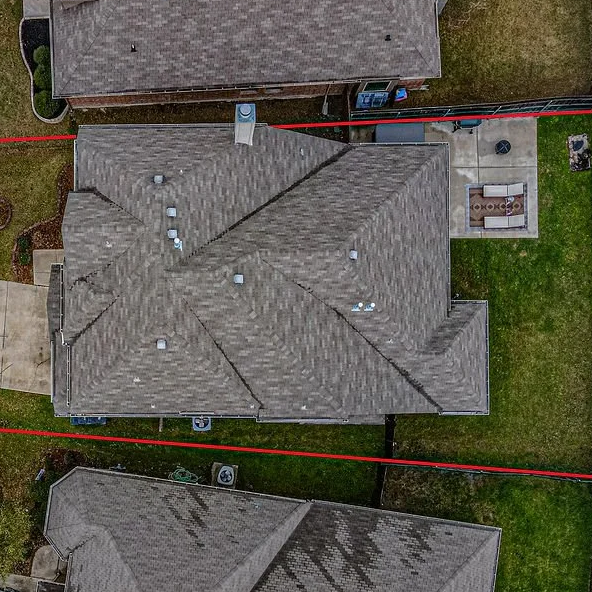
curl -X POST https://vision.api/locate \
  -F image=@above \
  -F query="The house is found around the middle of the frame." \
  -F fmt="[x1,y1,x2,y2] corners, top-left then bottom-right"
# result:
[47,102,491,425]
